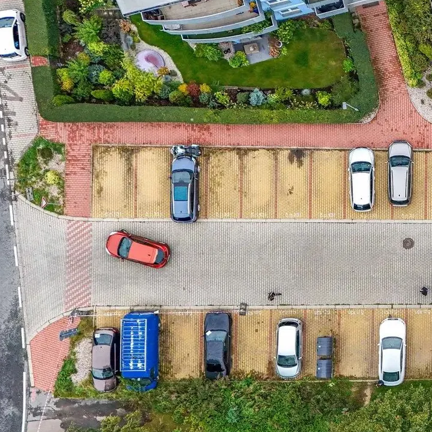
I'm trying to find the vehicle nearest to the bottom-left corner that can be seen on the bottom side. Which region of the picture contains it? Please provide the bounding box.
[88,328,123,391]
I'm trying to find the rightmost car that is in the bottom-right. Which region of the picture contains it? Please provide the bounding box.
[375,316,408,386]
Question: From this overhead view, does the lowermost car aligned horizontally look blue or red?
red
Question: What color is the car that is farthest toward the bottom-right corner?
white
